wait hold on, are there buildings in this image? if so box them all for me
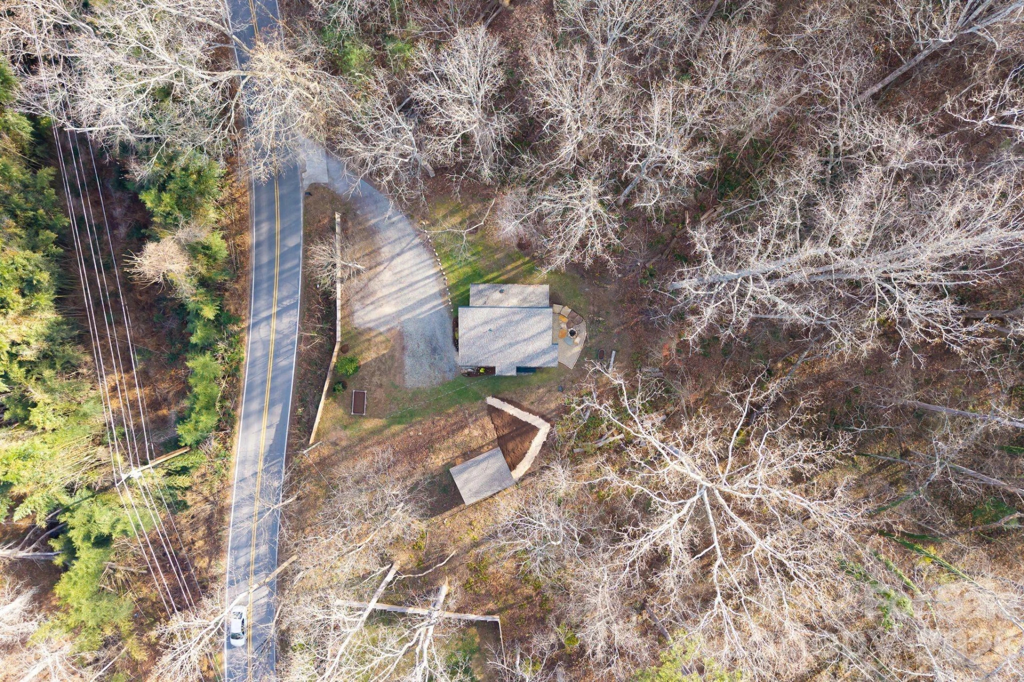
[450,446,515,505]
[457,283,559,375]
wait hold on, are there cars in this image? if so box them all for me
[226,606,247,648]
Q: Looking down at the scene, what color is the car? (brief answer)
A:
white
